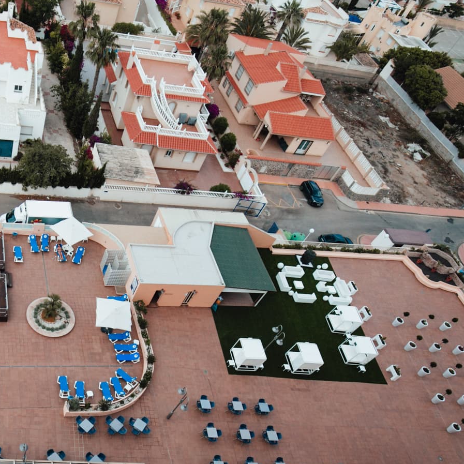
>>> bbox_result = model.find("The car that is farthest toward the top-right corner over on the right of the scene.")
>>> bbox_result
[299,178,324,207]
